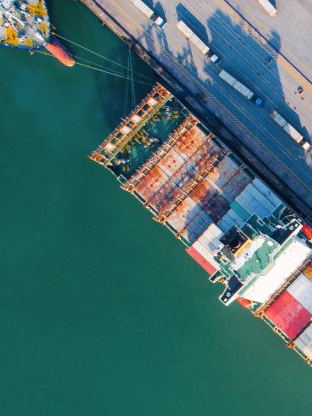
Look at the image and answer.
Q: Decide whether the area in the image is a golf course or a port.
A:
port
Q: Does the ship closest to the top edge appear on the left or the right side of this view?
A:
left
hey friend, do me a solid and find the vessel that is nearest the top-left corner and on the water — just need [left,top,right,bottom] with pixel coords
[0,0,75,64]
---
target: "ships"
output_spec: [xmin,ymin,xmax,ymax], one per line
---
[0,0,75,64]
[88,83,312,346]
